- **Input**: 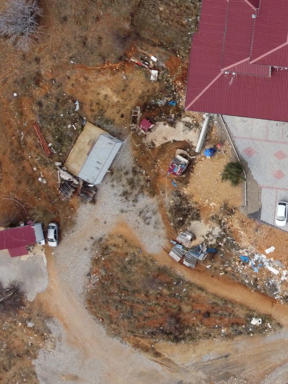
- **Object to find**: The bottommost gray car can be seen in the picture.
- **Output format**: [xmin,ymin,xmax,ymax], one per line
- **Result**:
[46,222,61,246]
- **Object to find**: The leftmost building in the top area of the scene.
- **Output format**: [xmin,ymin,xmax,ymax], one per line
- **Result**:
[64,122,127,184]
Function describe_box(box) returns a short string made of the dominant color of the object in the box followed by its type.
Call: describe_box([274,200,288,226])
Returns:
white vehicle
